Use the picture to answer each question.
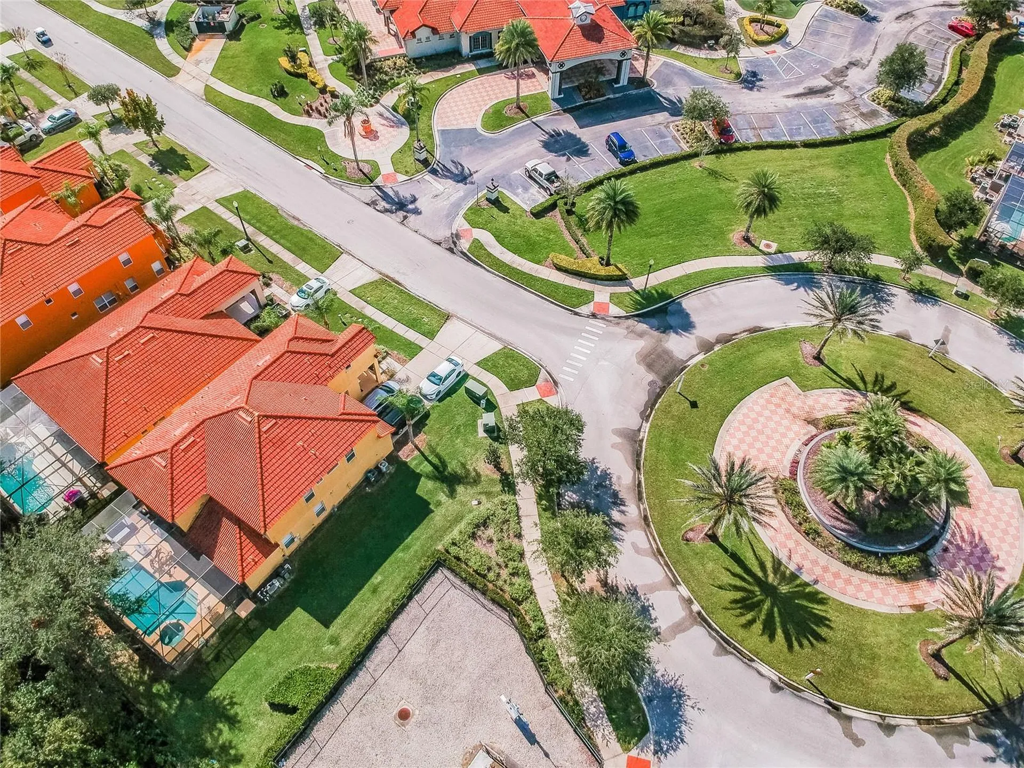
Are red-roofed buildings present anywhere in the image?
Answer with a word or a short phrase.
Yes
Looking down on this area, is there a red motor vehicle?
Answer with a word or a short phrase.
Yes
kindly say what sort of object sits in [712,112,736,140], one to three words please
car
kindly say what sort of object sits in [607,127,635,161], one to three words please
car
